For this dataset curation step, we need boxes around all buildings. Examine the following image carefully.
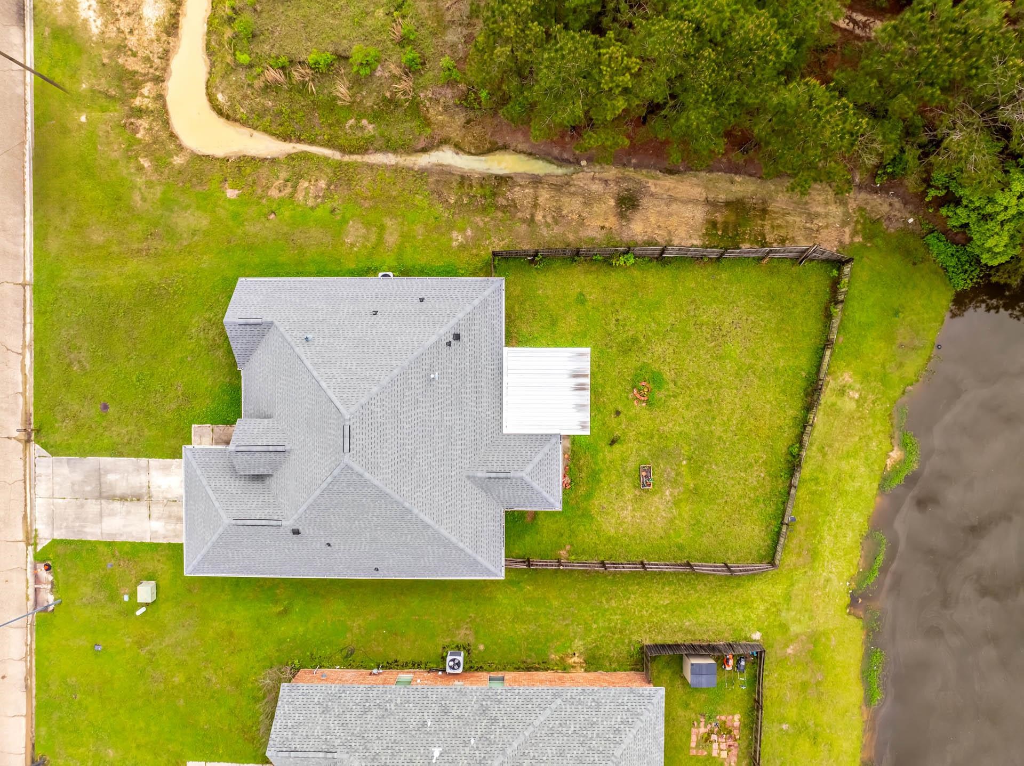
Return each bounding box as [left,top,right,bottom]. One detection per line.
[268,668,666,766]
[684,652,716,687]
[183,276,562,580]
